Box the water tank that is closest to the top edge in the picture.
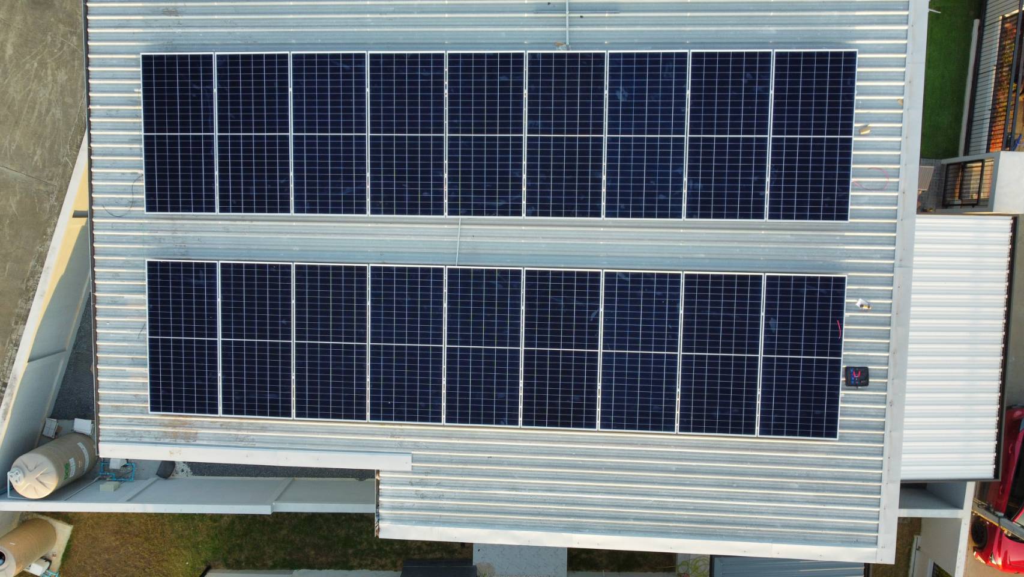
[9,434,94,497]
